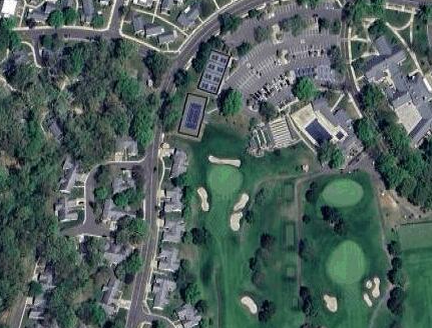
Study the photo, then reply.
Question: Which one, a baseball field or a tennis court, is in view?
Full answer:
There is a tennis court in the scene.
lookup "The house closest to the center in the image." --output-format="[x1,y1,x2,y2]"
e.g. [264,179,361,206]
[169,148,191,181]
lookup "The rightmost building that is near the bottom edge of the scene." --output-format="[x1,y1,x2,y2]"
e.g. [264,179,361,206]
[178,307,205,328]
